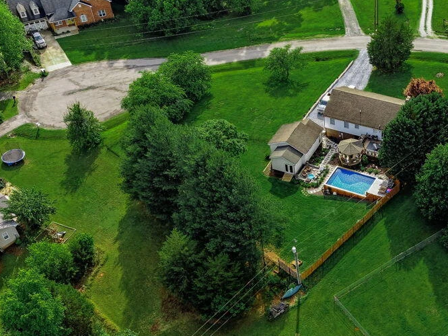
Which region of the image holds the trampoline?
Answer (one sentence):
You can find the trampoline in the left area of the picture.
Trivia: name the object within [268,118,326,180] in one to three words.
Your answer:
shed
